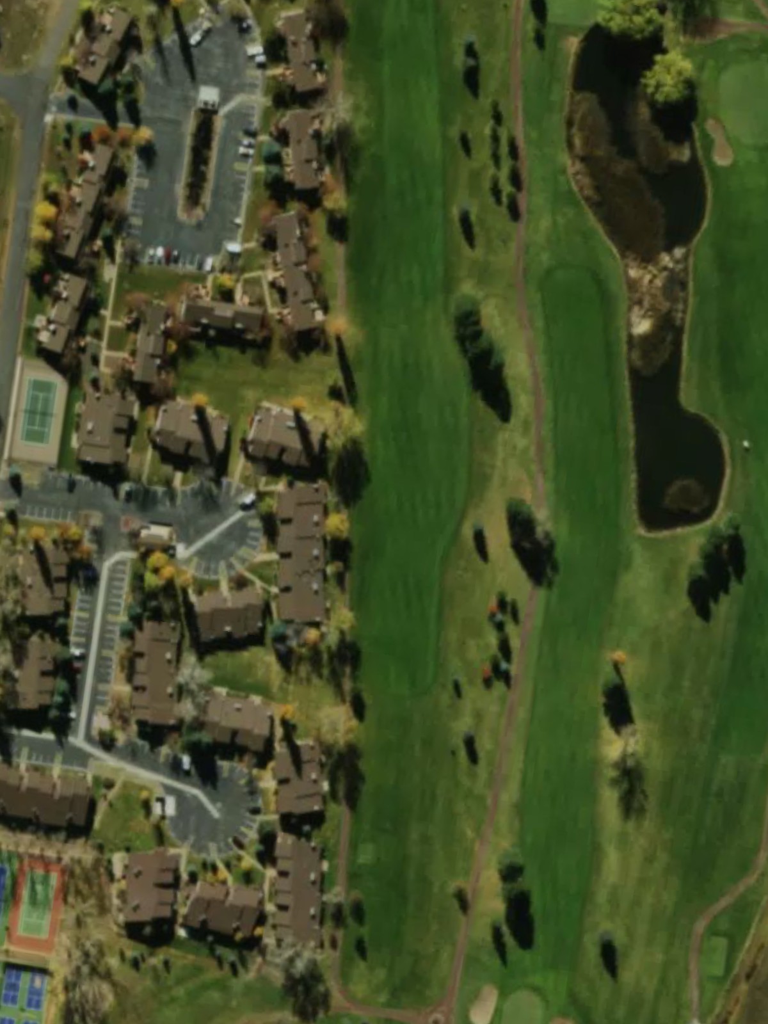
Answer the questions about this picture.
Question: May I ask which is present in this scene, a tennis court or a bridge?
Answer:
tennis court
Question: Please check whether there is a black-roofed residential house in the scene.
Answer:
No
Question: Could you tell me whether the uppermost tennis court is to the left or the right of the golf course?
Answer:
on its left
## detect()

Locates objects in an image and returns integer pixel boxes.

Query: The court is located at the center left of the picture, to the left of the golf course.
[9,361,67,465]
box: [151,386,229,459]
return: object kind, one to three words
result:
house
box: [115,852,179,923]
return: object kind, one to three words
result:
house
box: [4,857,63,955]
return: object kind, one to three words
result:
tennis court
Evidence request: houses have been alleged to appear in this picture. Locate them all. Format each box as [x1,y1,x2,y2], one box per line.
[133,620,191,721]
[72,2,131,83]
[245,395,330,469]
[0,764,92,831]
[151,386,229,459]
[182,300,264,340]
[47,140,114,258]
[68,391,134,465]
[276,743,334,812]
[277,482,339,620]
[194,587,268,650]
[184,882,263,941]
[201,678,274,747]
[30,270,88,351]
[286,108,334,189]
[5,637,60,706]
[274,835,335,945]
[13,542,72,614]
[130,302,180,387]
[273,211,330,330]
[115,852,179,923]
[279,8,329,91]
